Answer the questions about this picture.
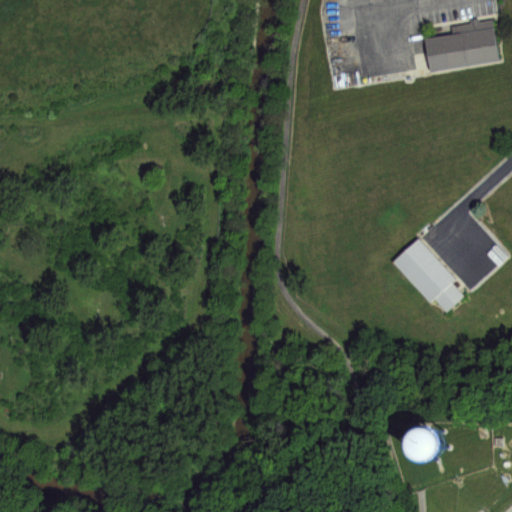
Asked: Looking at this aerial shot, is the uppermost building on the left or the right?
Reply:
right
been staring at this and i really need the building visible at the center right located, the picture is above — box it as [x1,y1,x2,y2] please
[394,239,465,310]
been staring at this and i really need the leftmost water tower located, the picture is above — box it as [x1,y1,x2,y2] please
[402,422,452,464]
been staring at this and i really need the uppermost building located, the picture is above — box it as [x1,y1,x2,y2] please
[425,16,500,72]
